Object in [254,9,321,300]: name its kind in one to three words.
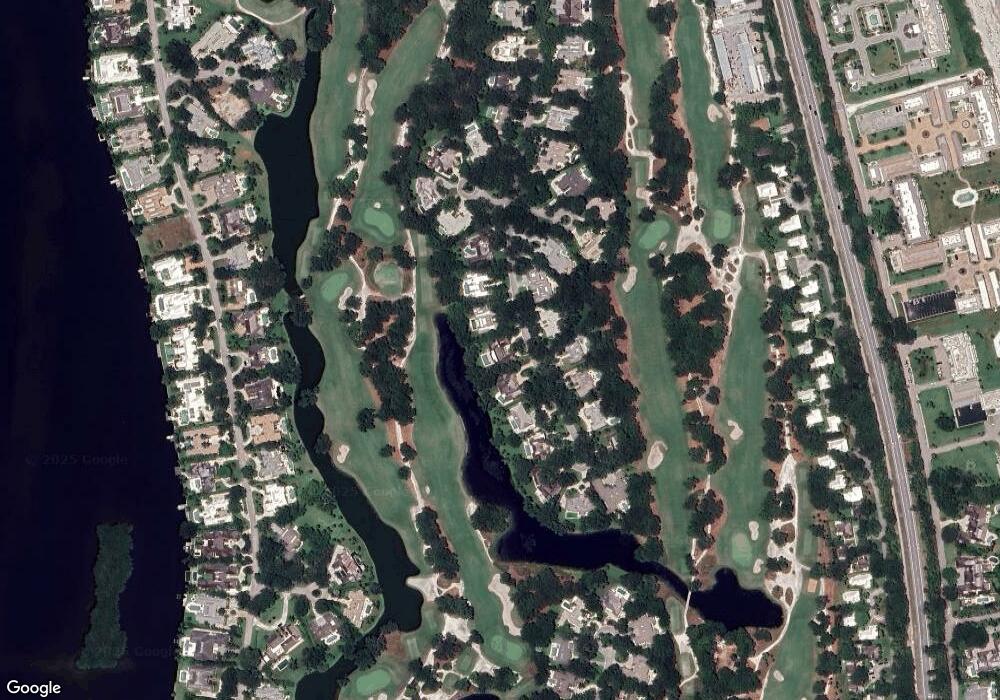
pond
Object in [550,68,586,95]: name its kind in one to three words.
house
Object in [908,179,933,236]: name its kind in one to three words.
building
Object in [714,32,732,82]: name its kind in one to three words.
shed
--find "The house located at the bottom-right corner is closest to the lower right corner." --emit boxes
[964,638,1000,671]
